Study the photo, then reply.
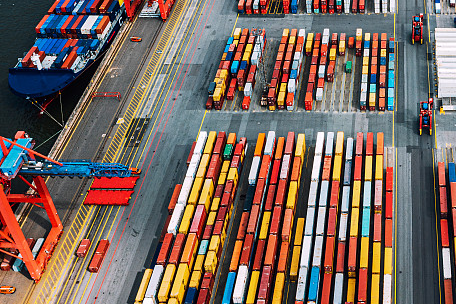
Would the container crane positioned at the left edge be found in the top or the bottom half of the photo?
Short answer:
bottom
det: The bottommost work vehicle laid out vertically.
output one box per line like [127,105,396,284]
[419,95,435,134]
